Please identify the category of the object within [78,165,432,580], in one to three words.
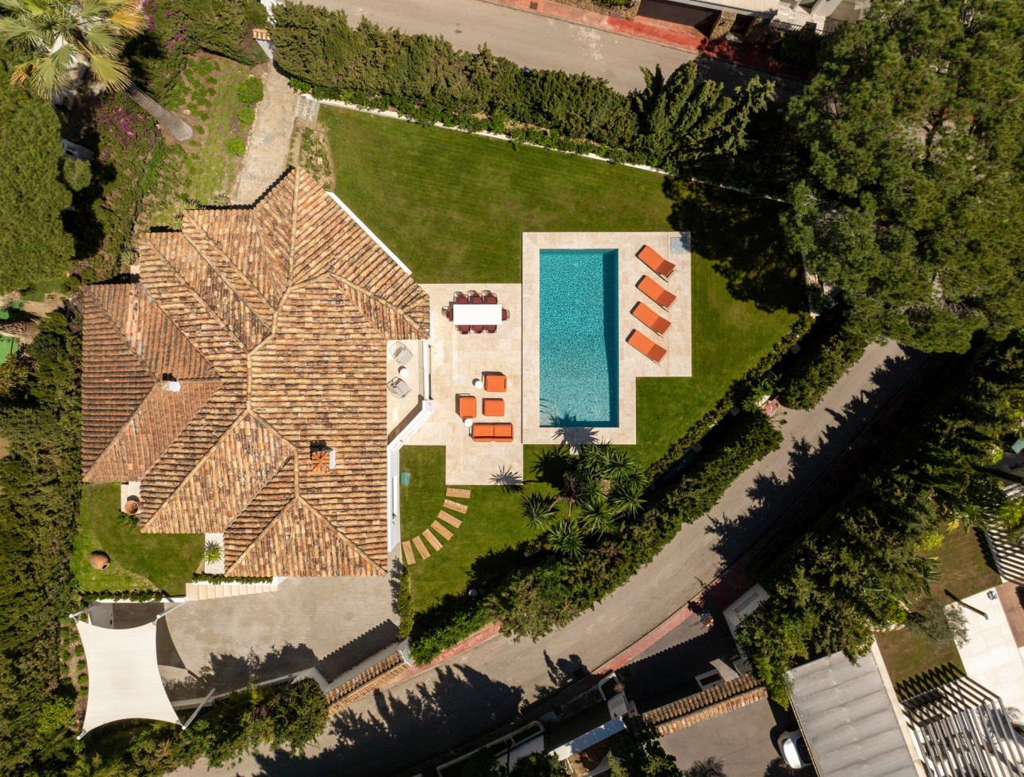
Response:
house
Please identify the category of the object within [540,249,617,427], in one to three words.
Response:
swimming pool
